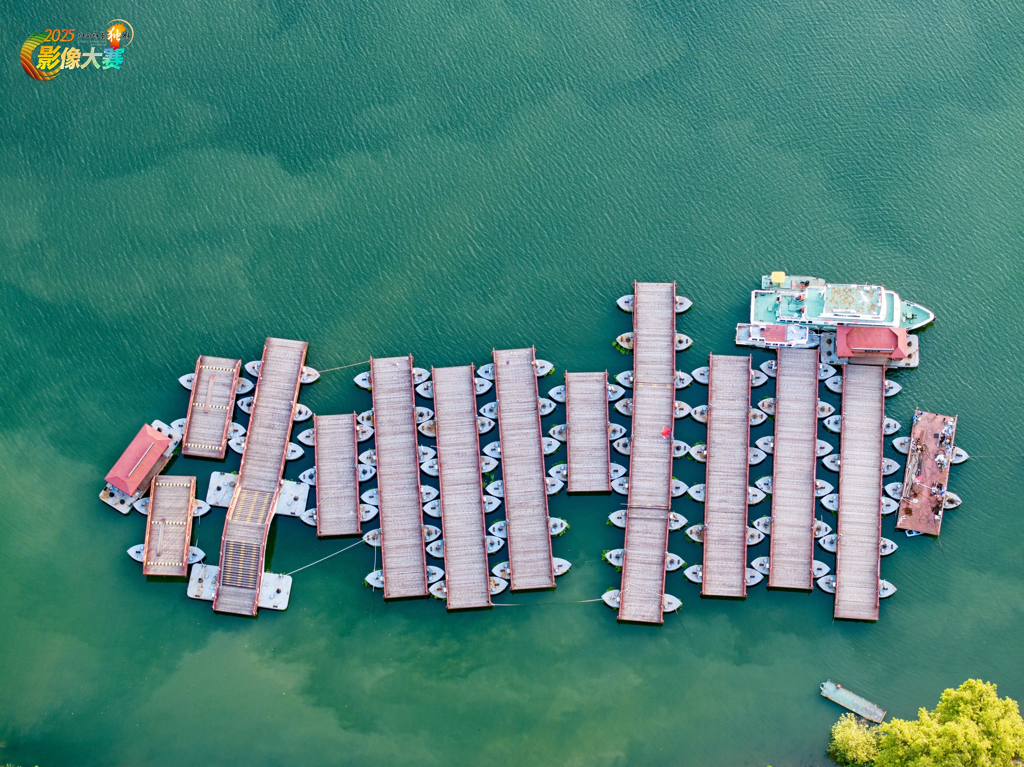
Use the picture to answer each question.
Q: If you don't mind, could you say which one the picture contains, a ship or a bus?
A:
ship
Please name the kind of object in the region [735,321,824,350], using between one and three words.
boat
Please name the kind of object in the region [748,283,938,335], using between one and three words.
ship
